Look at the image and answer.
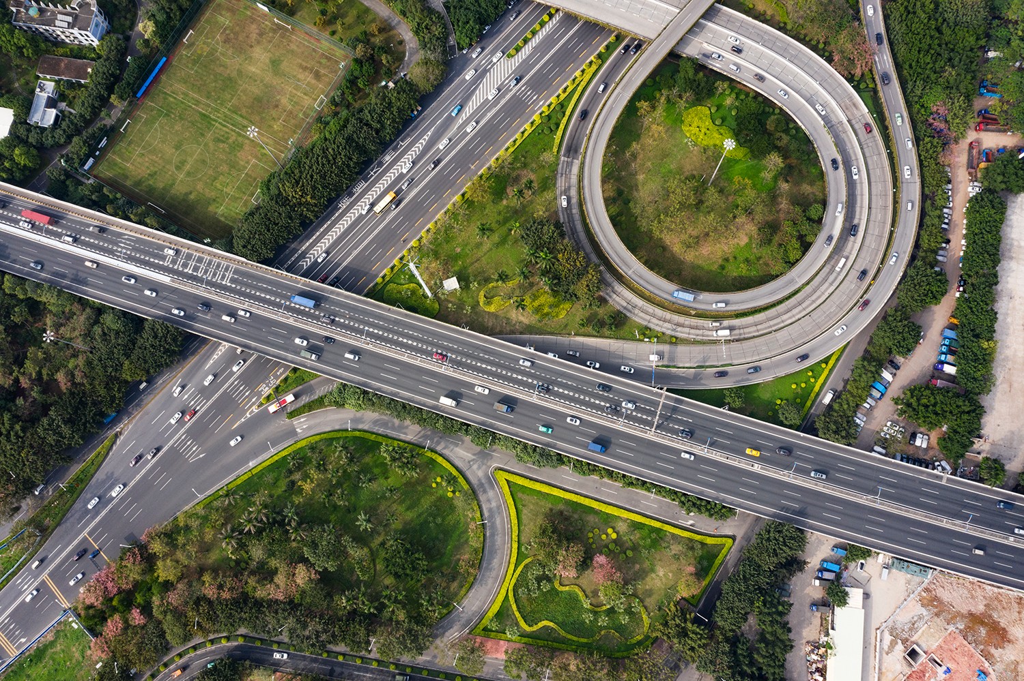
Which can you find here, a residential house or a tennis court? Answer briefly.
residential house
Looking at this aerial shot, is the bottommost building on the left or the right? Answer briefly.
right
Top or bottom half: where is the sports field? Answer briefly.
top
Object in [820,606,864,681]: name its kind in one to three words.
building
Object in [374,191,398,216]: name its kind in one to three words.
bus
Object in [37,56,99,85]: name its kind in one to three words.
house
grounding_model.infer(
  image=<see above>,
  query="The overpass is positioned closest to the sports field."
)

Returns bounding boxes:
[0,182,1024,591]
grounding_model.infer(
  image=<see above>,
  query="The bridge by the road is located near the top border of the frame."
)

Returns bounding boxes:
[487,0,695,54]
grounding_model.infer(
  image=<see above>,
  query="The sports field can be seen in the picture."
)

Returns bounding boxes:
[82,0,351,243]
